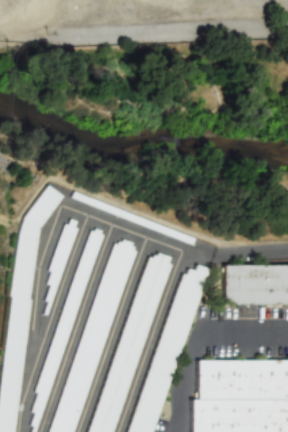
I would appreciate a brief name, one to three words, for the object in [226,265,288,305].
building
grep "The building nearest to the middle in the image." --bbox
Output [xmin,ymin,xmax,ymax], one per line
[72,192,196,246]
